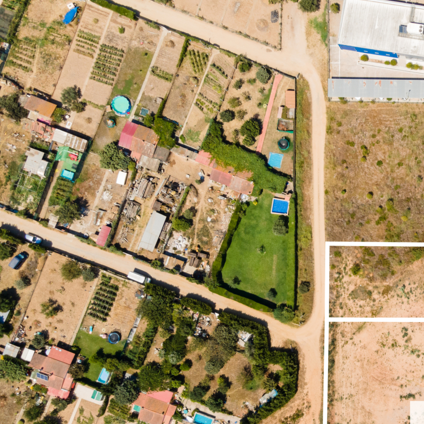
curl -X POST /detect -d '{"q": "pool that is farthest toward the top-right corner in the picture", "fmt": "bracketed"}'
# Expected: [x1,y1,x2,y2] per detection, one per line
[268,152,284,169]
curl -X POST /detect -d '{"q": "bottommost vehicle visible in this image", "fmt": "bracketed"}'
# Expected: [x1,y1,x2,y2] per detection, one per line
[125,271,151,284]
